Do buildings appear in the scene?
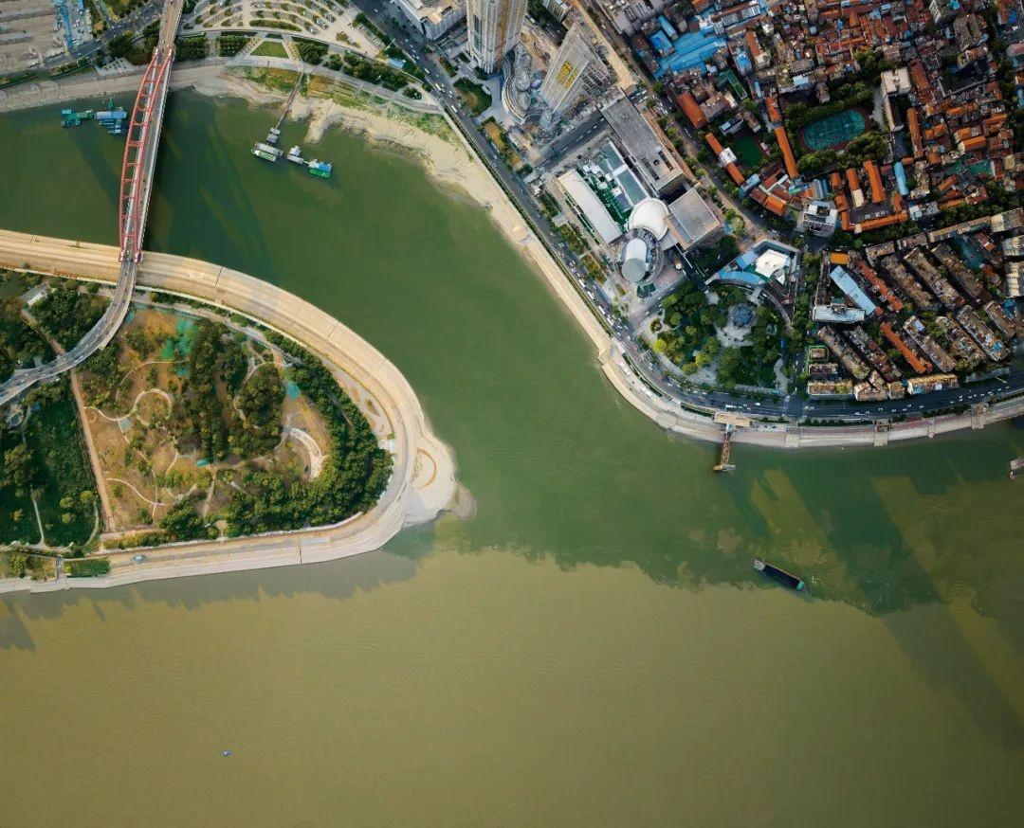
Yes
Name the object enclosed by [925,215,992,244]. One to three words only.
building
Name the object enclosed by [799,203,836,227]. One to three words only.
building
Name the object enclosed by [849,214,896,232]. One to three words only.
house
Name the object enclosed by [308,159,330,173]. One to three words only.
boat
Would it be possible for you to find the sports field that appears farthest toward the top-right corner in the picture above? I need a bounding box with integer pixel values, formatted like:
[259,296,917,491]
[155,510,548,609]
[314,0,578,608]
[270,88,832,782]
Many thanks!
[803,109,866,150]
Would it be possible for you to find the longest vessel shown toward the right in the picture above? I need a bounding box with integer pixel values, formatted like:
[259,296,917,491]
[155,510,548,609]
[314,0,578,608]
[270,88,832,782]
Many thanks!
[754,559,802,590]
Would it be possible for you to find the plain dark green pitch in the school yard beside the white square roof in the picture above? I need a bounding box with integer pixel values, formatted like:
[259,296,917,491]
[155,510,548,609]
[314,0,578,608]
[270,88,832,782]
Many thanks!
[735,132,764,168]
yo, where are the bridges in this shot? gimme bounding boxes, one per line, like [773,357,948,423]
[0,0,185,407]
